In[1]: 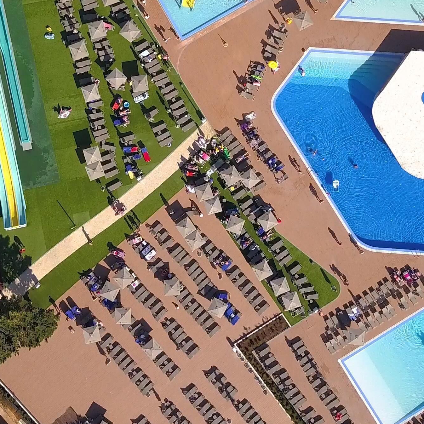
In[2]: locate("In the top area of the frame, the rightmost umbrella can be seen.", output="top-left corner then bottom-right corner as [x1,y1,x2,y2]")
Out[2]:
[289,8,315,33]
